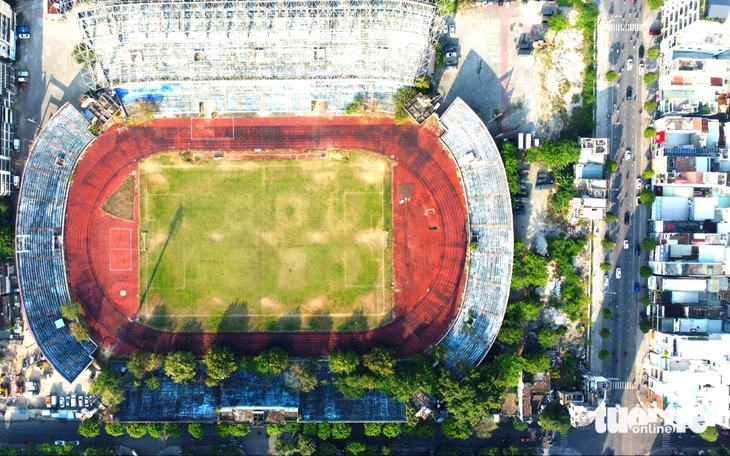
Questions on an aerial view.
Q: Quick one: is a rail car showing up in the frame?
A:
No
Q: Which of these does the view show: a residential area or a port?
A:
residential area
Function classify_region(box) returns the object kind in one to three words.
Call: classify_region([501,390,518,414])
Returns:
house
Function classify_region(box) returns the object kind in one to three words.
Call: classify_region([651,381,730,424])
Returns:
house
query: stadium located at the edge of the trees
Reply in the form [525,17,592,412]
[14,0,515,423]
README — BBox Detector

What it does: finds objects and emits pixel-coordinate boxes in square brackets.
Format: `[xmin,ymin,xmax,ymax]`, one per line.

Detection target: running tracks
[65,116,468,356]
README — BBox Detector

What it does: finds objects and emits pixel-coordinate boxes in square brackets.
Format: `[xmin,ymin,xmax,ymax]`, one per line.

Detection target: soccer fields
[139,150,393,331]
